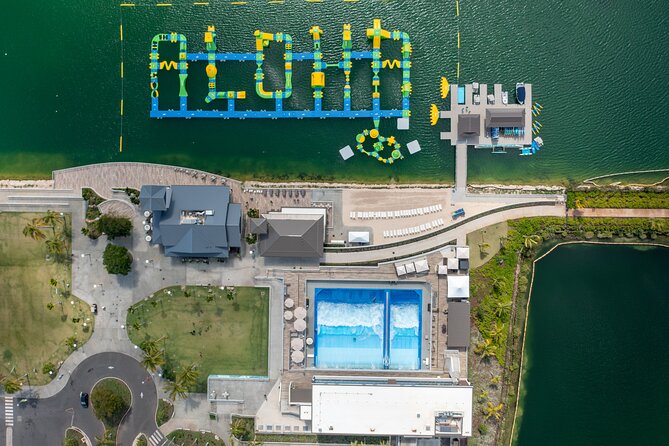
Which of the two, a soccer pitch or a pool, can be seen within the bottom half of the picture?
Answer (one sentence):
The one visible within the bottom half of the picture is a pool.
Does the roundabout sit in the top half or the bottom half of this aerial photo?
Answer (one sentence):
You can find the roundabout in the bottom half.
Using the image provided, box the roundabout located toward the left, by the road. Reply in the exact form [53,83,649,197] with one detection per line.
[63,353,157,446]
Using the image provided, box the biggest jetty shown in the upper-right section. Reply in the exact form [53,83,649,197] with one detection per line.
[438,82,535,153]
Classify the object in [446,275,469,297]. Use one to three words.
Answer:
tent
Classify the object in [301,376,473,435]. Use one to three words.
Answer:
building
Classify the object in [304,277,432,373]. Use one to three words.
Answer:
swimming pool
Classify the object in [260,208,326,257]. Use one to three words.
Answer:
building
